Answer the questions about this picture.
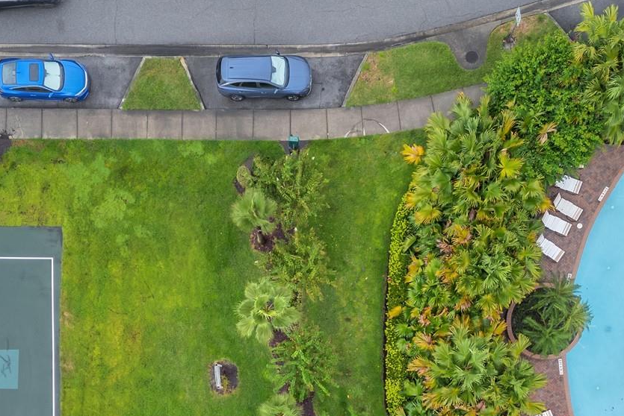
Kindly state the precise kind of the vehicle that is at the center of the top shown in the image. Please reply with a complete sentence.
It looks like the vehicle that is at the center of the top is a car.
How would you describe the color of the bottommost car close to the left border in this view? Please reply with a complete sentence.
The bottommost car close to the left border looks blue in the image.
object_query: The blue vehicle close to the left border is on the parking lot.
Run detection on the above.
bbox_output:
[0,55,87,105]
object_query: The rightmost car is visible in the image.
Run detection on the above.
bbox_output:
[218,50,313,103]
